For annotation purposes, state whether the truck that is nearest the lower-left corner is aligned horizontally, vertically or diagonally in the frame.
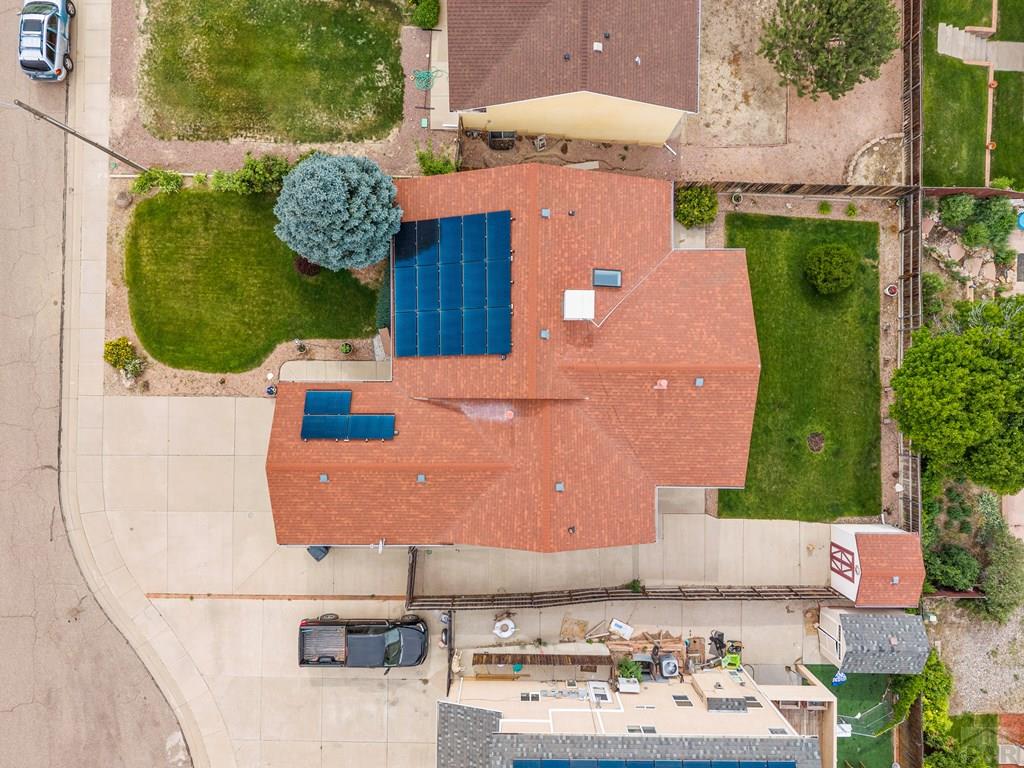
horizontally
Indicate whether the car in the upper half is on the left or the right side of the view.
left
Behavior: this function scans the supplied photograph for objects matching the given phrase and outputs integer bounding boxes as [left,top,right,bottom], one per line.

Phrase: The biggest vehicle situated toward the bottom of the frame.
[297,614,429,675]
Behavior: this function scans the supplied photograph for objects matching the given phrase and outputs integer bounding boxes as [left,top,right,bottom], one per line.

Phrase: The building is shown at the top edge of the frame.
[446,0,699,155]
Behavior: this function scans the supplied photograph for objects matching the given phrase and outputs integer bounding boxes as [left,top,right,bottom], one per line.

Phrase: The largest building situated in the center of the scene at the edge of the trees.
[267,164,760,551]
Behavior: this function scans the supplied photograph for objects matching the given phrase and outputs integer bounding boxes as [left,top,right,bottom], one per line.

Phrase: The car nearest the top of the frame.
[17,0,76,83]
